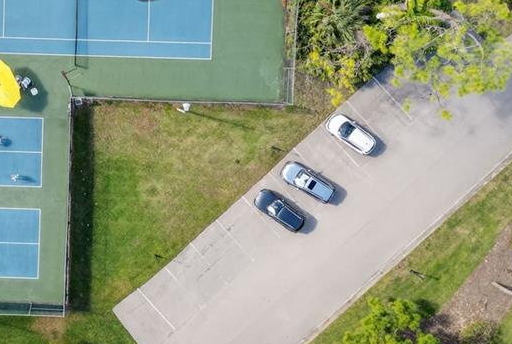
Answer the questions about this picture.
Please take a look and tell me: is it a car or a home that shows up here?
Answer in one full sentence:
The image shows a car.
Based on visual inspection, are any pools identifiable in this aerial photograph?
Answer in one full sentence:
No, there appears to be no pool in this shot.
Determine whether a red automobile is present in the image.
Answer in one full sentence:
No, I can see no red automobile in this picture.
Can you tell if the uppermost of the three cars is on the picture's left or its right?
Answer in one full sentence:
The uppermost of the three cars is on the right side of the image.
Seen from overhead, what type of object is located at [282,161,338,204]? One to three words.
car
